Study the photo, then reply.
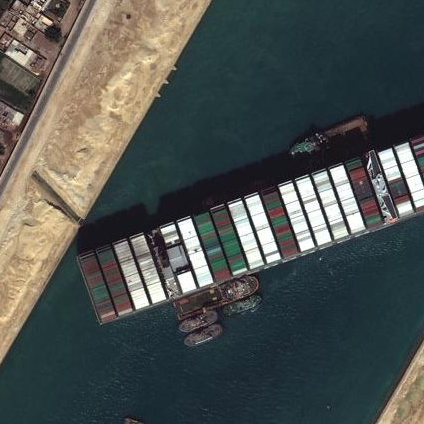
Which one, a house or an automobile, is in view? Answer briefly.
house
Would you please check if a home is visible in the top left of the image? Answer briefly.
Yes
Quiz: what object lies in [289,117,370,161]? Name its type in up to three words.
vessel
